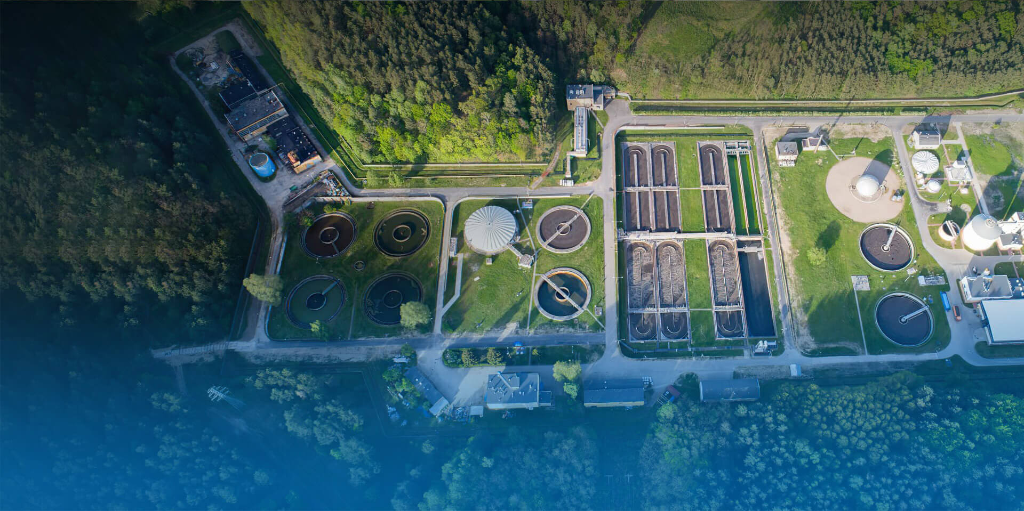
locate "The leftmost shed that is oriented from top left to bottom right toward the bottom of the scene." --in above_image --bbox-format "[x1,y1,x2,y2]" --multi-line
[404,365,445,406]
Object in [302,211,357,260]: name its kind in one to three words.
storage tank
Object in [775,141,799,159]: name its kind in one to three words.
shed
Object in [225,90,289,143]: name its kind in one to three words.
building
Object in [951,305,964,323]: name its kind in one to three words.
vehicle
